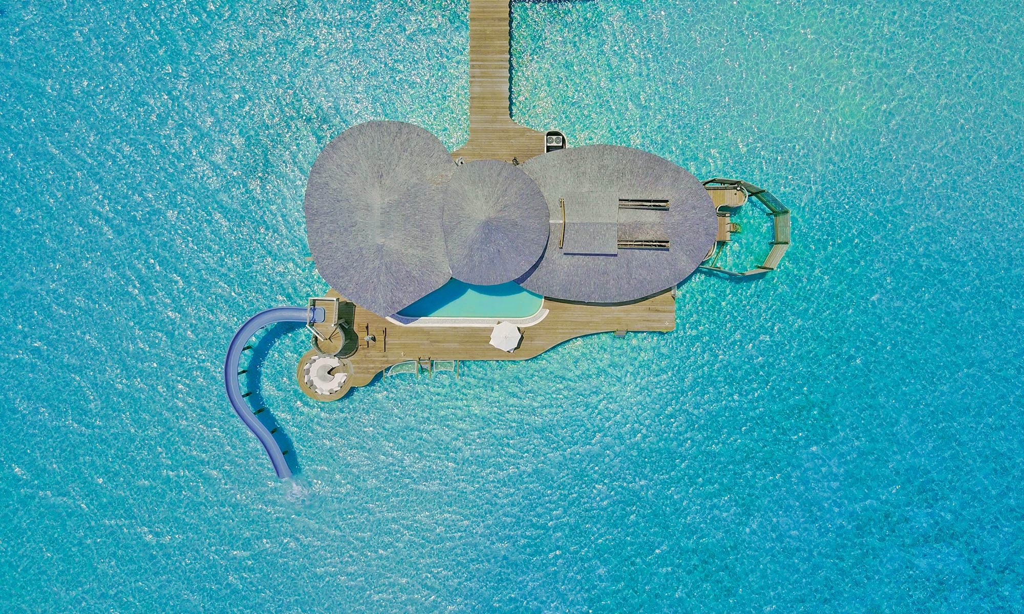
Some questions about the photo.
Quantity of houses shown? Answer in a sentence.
The count comes to 1 house.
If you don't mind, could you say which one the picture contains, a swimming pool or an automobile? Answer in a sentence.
The image shows a swimming pool.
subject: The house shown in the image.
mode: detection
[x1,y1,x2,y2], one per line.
[304,120,718,318]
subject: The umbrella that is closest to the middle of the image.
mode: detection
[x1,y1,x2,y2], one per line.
[491,321,521,351]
